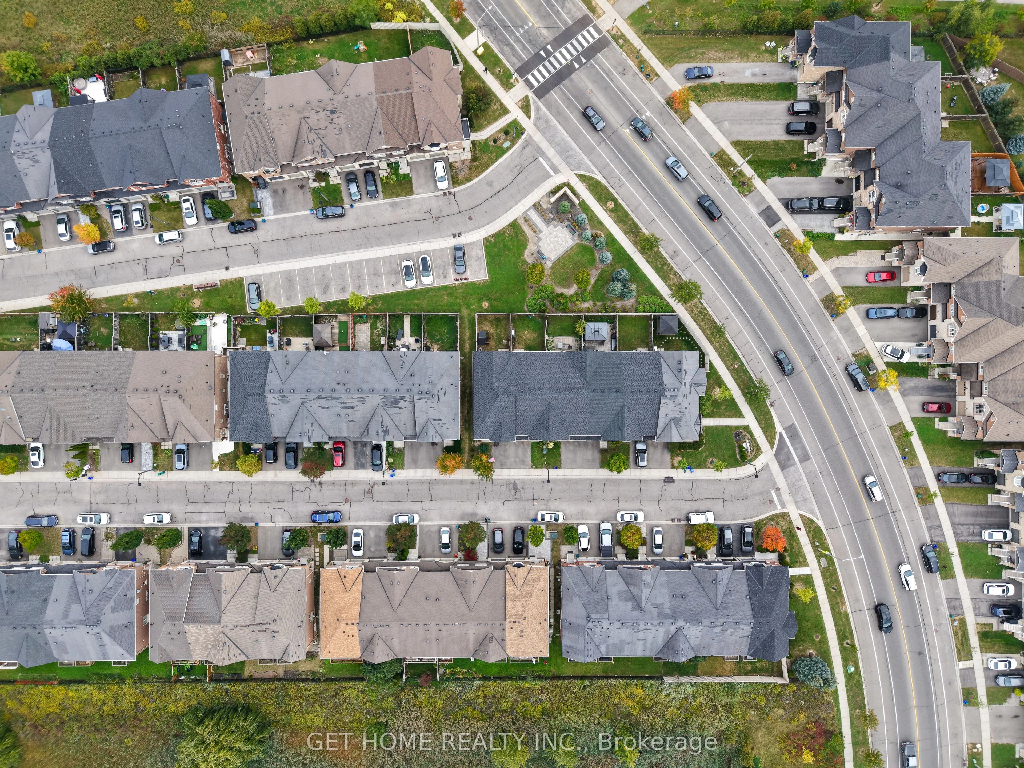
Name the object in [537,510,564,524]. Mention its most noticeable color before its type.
white car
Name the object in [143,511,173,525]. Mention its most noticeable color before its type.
white car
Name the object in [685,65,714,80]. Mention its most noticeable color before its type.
blue car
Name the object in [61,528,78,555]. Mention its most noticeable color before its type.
blue car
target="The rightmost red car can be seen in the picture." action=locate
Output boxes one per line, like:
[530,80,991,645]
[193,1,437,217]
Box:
[921,401,951,414]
